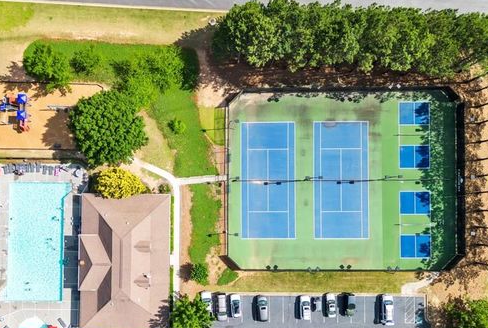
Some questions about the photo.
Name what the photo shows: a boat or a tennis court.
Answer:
tennis court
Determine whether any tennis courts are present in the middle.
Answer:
Yes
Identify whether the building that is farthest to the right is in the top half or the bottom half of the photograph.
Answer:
bottom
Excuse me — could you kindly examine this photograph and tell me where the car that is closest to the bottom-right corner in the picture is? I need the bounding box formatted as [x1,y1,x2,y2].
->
[381,296,394,324]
